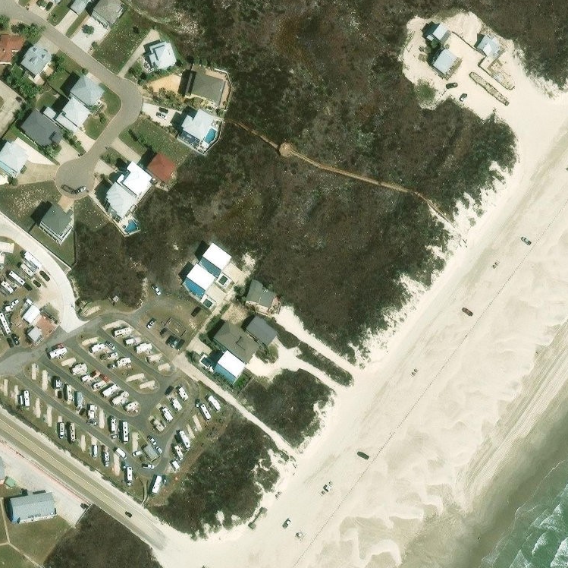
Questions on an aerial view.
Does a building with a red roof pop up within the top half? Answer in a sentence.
Yes, you'll find a building with a red roof within the top half.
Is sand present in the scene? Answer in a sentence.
Yes, there's sand in this view.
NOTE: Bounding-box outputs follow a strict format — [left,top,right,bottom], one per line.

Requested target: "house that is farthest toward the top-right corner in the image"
[478,33,503,59]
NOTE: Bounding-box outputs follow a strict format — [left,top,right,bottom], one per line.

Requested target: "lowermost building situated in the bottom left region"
[8,490,56,525]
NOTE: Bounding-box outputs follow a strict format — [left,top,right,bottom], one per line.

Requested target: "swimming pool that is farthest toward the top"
[198,128,218,151]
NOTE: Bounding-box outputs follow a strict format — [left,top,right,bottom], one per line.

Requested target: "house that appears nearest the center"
[243,279,276,312]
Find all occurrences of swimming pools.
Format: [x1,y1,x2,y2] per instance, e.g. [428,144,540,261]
[119,215,141,236]
[198,128,218,151]
[217,272,232,288]
[200,295,216,309]
[200,355,213,369]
